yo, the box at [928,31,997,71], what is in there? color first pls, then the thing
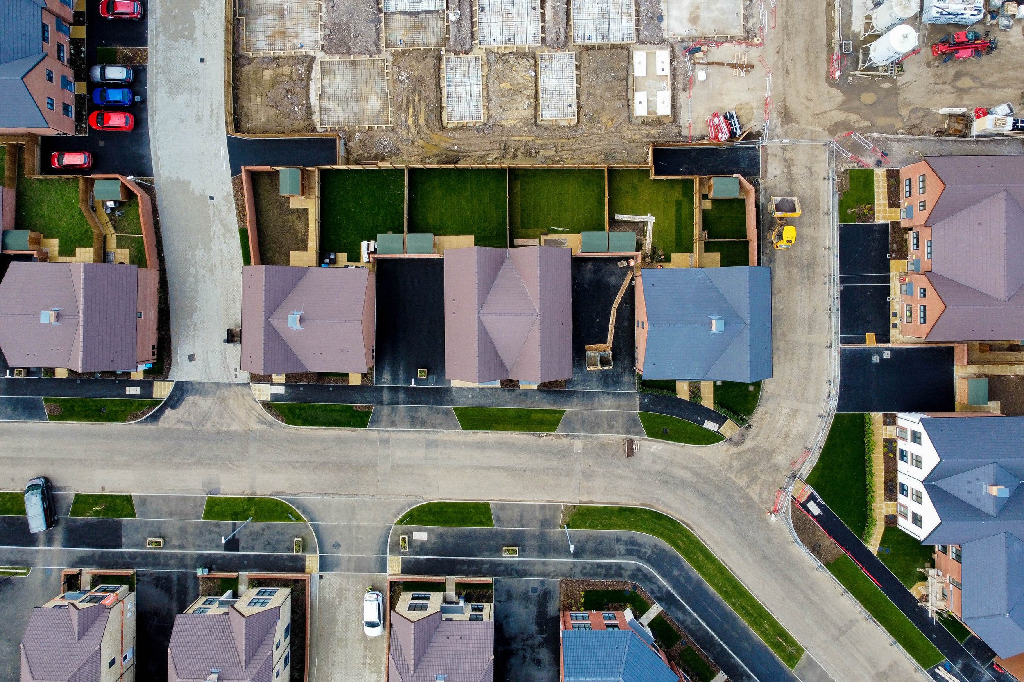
red work vehicle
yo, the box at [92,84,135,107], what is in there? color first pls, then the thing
blue car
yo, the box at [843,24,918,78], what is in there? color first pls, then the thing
white silo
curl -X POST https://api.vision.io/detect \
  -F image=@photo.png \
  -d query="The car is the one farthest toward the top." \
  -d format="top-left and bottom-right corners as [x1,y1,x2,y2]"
[99,0,145,20]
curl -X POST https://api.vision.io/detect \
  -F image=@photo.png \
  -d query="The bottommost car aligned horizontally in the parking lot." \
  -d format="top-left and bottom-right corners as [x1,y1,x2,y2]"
[51,149,95,170]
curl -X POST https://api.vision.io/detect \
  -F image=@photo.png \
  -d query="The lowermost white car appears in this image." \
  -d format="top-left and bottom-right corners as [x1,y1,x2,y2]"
[362,590,383,636]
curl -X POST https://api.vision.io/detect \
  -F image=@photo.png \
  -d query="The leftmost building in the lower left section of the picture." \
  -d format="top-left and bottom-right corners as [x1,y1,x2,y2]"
[20,586,137,682]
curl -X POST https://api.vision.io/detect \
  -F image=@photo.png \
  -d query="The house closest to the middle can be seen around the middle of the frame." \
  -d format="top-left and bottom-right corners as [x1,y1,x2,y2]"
[444,246,573,383]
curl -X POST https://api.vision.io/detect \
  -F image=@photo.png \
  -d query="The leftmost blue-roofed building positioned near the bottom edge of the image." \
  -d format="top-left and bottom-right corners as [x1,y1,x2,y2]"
[561,610,687,682]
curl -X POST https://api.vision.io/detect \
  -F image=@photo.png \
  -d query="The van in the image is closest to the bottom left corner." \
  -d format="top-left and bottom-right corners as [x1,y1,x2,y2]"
[24,477,58,532]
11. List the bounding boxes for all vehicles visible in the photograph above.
[928,31,997,71]
[89,108,136,132]
[767,197,801,251]
[92,84,135,107]
[362,590,383,636]
[51,149,95,170]
[90,62,136,85]
[24,477,58,532]
[99,0,145,20]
